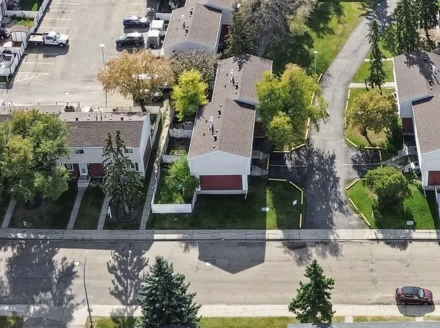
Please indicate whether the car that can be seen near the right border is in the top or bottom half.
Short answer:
bottom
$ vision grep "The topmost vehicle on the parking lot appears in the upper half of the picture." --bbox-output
[121,15,149,29]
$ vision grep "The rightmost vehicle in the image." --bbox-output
[393,286,437,308]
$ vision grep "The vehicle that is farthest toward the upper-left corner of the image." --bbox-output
[30,33,68,48]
